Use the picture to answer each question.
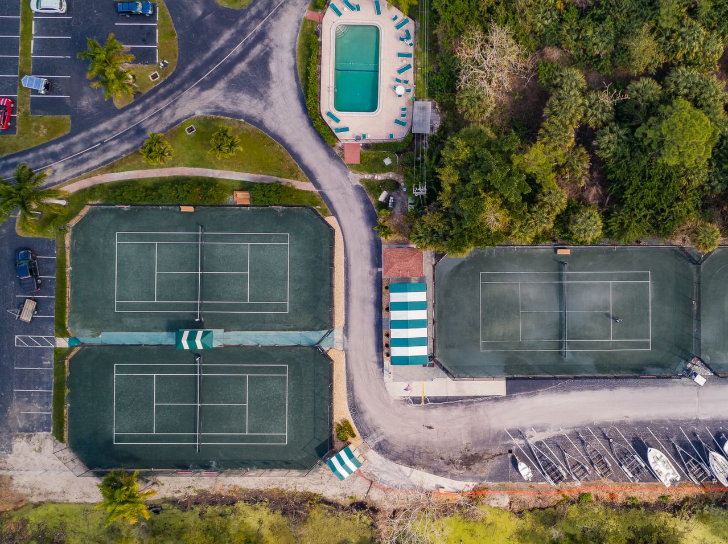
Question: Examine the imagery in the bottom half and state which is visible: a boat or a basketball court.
boat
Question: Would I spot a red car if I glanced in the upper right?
No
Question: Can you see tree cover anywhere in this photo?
Yes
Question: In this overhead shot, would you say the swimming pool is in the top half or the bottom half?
top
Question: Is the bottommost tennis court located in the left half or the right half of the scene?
left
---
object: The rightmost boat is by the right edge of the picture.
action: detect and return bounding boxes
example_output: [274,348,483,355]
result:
[706,445,728,486]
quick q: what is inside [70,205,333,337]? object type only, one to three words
tennis court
